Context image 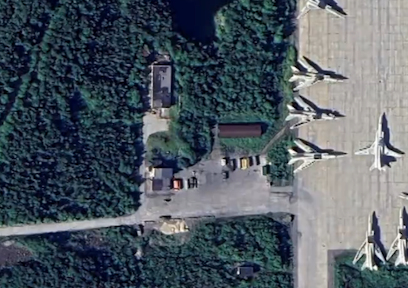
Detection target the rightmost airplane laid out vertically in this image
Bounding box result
[388,209,408,265]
